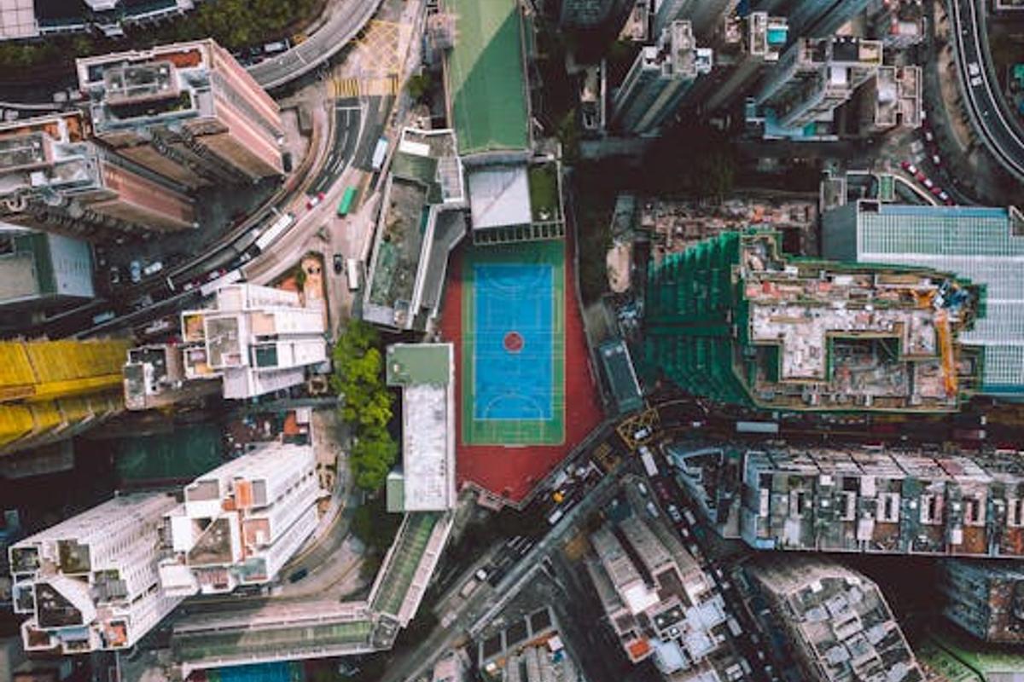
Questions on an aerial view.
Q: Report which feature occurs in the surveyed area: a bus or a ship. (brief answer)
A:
bus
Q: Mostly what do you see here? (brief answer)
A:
buildings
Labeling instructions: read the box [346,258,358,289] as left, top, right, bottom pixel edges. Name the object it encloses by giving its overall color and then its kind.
white vehicle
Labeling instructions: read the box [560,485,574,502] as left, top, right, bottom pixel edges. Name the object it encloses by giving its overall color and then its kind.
black car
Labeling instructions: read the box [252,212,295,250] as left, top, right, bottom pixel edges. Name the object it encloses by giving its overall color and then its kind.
white bus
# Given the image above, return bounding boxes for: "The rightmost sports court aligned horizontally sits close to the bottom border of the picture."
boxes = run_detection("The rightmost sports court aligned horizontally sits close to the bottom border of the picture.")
[178,655,328,682]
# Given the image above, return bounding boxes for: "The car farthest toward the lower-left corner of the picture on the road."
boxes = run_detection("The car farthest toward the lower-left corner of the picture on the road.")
[289,565,310,583]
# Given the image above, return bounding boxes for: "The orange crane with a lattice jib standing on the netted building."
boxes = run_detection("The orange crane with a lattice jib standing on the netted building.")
[913,279,970,395]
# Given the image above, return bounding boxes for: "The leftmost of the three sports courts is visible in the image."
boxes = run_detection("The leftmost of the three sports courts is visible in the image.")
[111,416,228,484]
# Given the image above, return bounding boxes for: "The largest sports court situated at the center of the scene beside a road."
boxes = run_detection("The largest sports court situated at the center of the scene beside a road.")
[437,223,605,504]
